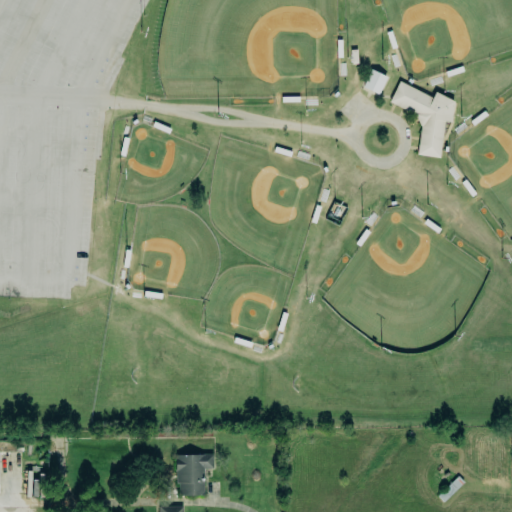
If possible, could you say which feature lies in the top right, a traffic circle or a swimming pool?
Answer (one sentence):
The one visible in the top right is a traffic circle.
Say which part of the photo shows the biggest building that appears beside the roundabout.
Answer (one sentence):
Look in the top right portion of the view to spot the biggest building that appears beside the roundabout.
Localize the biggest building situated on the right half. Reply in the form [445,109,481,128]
[392,80,457,158]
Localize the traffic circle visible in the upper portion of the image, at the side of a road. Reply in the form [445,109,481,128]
[340,92,412,170]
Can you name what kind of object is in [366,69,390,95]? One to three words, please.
building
